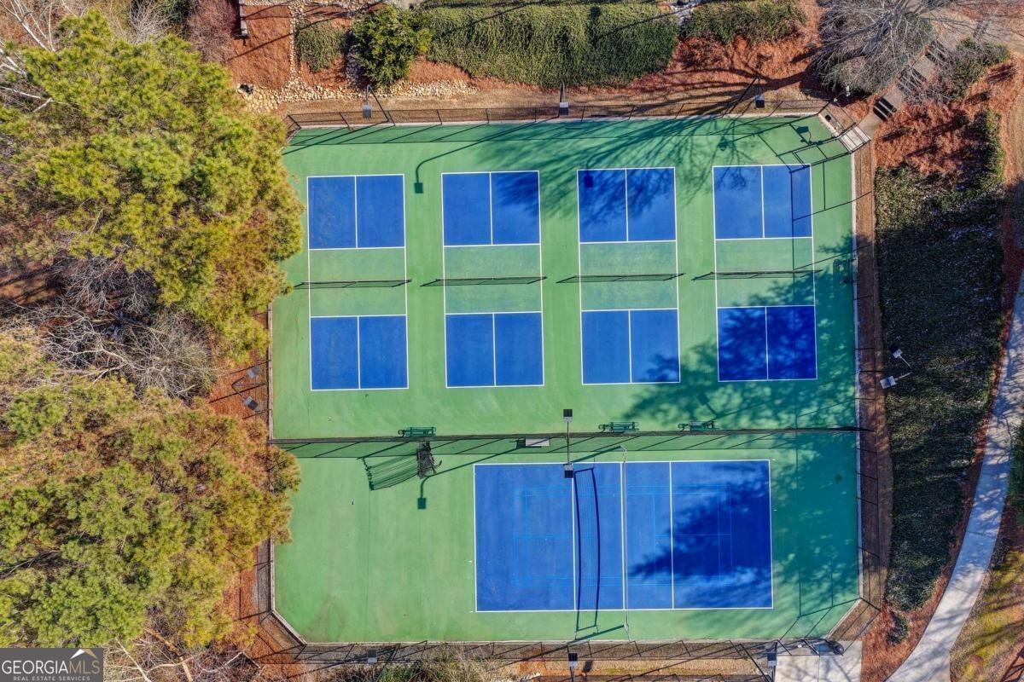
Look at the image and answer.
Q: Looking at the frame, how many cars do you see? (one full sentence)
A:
There are no cars in the image.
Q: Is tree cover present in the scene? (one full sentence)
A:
Yes, some tree cover is visible.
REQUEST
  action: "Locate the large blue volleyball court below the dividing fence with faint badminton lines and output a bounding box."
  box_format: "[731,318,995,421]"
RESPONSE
[474,460,773,613]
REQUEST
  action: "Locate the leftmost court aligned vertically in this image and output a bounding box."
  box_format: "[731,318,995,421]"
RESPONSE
[307,174,408,391]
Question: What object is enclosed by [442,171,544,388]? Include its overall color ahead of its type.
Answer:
blue sports court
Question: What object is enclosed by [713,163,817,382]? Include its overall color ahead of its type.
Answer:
blue sports court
